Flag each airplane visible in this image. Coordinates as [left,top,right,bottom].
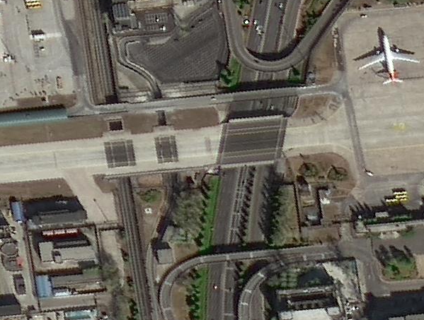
[364,35,418,85]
